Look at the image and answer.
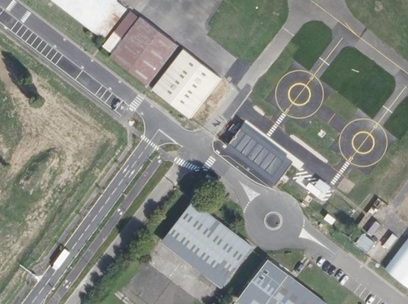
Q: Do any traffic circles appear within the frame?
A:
Yes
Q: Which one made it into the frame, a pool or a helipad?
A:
helipad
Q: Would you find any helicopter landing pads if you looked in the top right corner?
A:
Yes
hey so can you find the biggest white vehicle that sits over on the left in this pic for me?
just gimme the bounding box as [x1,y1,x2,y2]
[51,250,69,271]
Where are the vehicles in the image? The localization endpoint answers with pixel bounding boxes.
[340,275,349,286]
[296,262,304,272]
[322,260,332,271]
[230,122,239,132]
[365,296,374,304]
[111,98,120,108]
[327,264,336,275]
[51,250,69,271]
[334,269,344,280]
[318,256,326,267]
